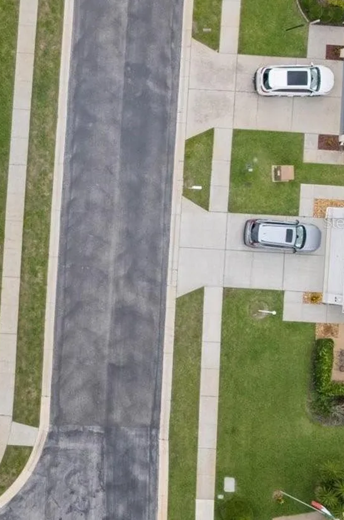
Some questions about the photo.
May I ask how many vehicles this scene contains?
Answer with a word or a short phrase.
two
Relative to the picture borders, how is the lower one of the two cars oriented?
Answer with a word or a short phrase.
from left to right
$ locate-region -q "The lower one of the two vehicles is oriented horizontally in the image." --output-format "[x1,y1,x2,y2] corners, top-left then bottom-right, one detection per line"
[240,217,322,257]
